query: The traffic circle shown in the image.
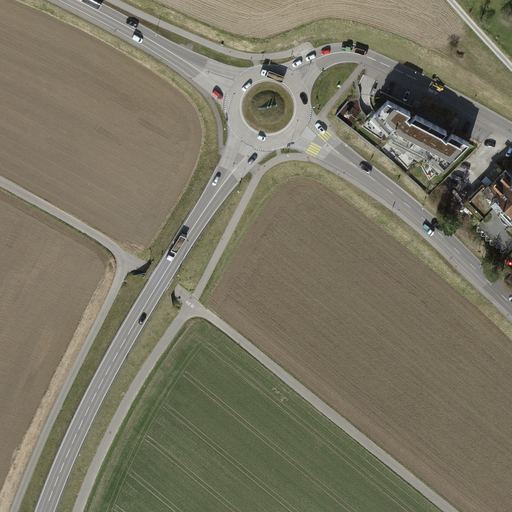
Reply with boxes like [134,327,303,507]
[224,64,312,151]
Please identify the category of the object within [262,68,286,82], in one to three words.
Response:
vehicle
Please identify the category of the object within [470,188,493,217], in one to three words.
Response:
shed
